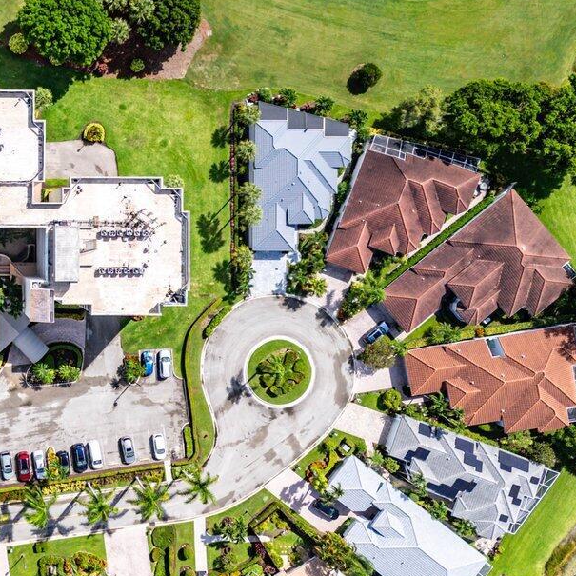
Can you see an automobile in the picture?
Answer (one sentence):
Yes, I can see an automobile in this picture.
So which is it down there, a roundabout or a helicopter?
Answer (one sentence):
The image shows a roundabout.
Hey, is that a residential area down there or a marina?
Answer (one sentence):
This image shows a residential area.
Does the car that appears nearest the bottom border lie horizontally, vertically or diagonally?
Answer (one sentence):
In this picture, the car that appears nearest the bottom border lies diagonally.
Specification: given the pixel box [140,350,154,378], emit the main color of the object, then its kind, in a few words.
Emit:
blue vehicle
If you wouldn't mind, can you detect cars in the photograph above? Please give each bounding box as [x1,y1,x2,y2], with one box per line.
[157,349,171,378]
[119,436,133,464]
[17,451,31,482]
[70,442,87,474]
[0,451,12,480]
[32,450,46,480]
[140,350,154,378]
[363,319,393,344]
[309,496,340,521]
[151,432,165,461]
[55,444,70,476]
